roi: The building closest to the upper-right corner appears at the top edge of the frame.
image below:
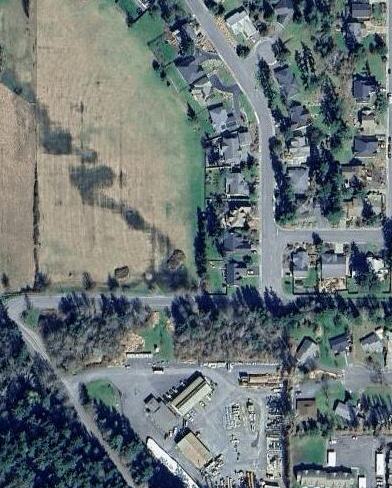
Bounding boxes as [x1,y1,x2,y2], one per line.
[351,0,371,21]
